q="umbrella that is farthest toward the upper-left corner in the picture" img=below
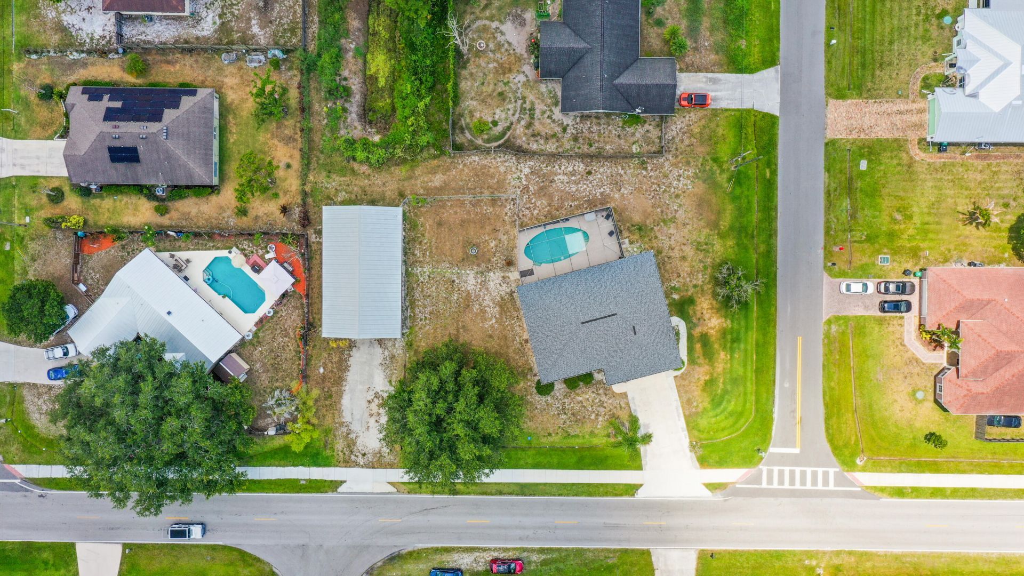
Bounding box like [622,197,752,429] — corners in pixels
[233,254,247,268]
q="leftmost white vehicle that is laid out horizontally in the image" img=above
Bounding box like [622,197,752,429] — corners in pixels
[41,343,80,361]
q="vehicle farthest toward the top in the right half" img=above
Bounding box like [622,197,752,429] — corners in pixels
[678,91,711,108]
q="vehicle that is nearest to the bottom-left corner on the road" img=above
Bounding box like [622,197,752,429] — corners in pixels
[165,522,205,540]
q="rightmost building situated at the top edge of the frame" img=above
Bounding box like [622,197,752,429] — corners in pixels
[919,0,1024,143]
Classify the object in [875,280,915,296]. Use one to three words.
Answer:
car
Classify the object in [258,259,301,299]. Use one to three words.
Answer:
gazebo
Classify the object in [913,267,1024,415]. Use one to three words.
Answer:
house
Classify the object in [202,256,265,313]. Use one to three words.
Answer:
swimming pool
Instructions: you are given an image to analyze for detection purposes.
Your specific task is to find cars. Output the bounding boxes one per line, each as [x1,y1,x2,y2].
[838,280,873,296]
[431,565,463,576]
[877,299,911,315]
[875,280,915,296]
[165,522,205,540]
[678,91,711,108]
[984,415,1021,430]
[47,362,83,378]
[490,558,522,576]
[44,306,77,341]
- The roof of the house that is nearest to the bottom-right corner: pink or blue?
pink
